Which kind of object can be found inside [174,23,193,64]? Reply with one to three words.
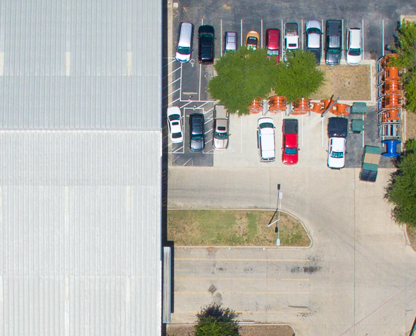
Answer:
vehicle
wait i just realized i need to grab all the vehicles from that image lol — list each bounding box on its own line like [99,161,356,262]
[212,105,230,151]
[222,32,237,67]
[245,31,259,55]
[280,118,300,166]
[197,26,215,66]
[283,23,301,60]
[324,19,343,67]
[174,23,193,64]
[264,28,283,69]
[303,22,324,63]
[344,27,362,67]
[256,118,276,164]
[326,115,348,172]
[188,113,205,153]
[166,107,183,145]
